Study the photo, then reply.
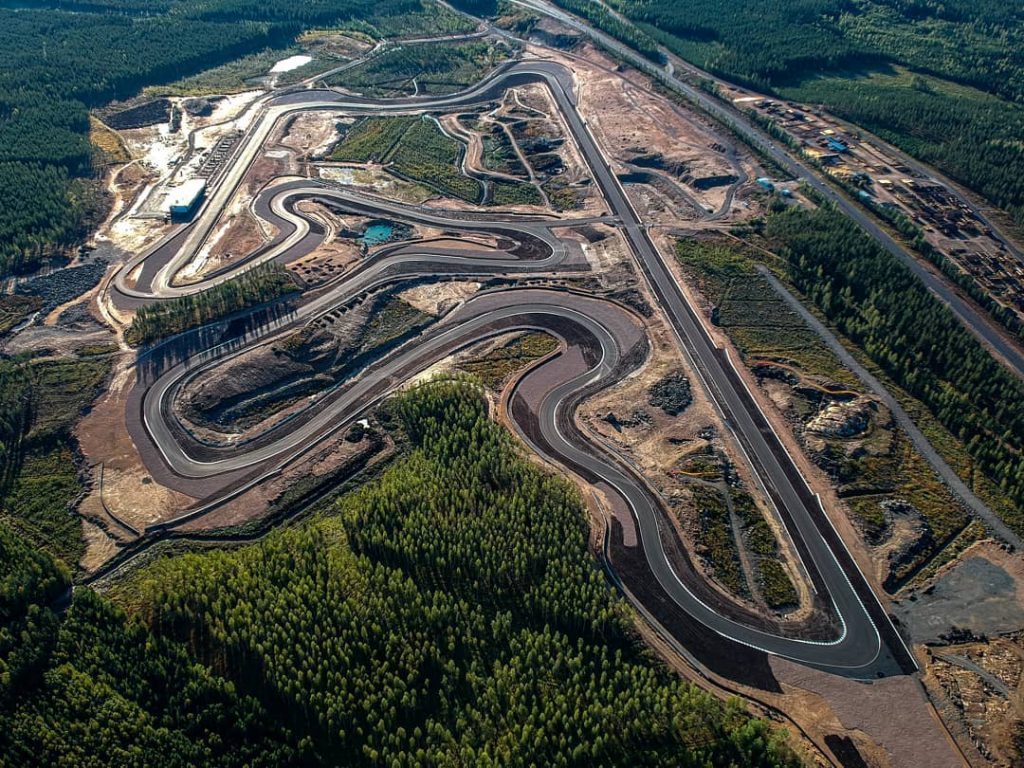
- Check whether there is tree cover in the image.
Yes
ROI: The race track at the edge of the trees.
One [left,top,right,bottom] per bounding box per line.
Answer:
[144,70,880,667]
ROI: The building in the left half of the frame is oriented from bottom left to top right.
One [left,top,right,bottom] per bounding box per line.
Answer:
[170,179,208,214]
